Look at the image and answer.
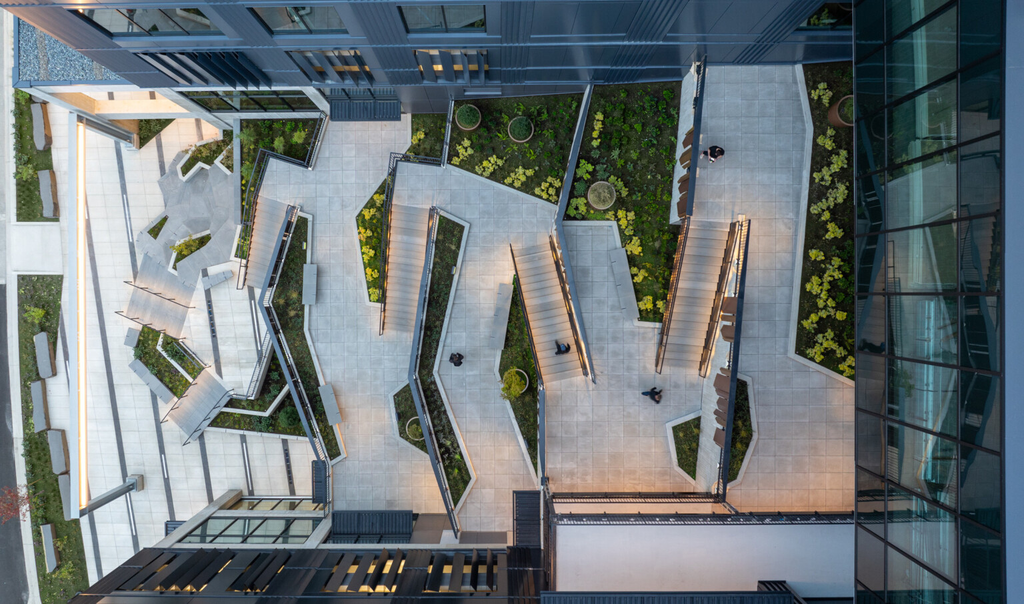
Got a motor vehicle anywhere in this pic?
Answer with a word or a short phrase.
No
